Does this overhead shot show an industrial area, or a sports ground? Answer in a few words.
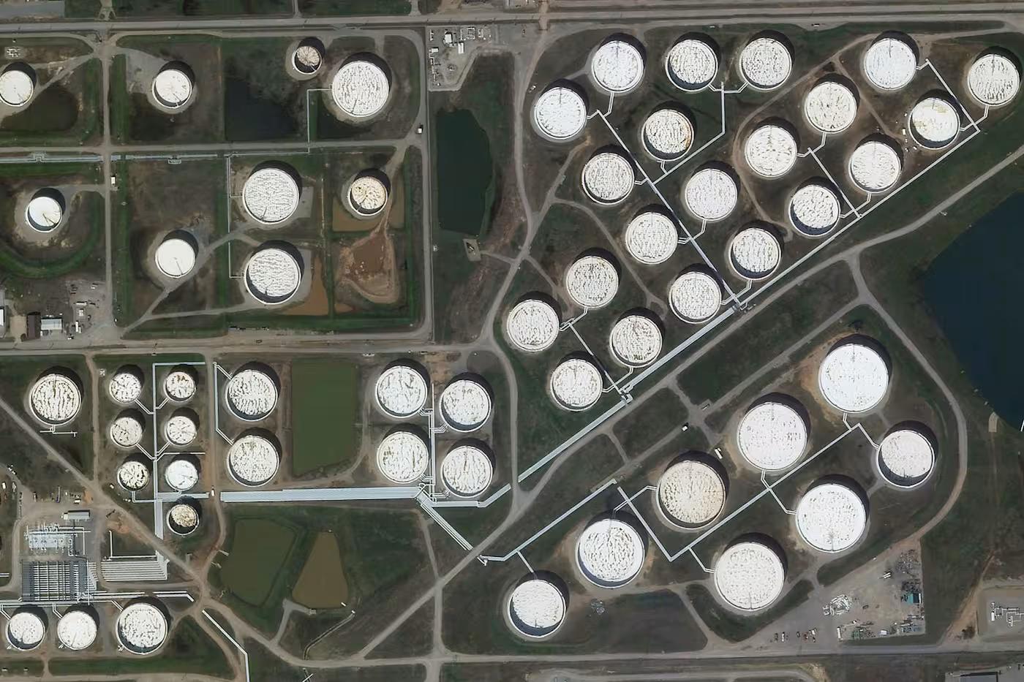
industrial area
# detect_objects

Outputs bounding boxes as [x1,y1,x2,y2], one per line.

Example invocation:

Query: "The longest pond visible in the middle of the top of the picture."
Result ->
[437,110,491,235]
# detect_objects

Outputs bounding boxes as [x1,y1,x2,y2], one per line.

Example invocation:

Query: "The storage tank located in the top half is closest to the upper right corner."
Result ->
[967,52,1020,107]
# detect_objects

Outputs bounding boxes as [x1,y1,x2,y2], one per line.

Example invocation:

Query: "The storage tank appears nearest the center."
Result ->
[507,298,559,352]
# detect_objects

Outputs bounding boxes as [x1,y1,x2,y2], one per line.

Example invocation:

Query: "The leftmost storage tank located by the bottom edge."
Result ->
[6,611,46,651]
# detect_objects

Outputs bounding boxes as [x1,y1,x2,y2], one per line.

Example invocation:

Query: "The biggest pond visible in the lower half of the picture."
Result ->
[292,359,358,473]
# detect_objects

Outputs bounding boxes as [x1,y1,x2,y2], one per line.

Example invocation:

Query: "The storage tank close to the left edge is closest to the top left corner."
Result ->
[0,70,35,107]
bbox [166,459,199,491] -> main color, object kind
white storage tank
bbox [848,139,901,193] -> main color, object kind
white storage tank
